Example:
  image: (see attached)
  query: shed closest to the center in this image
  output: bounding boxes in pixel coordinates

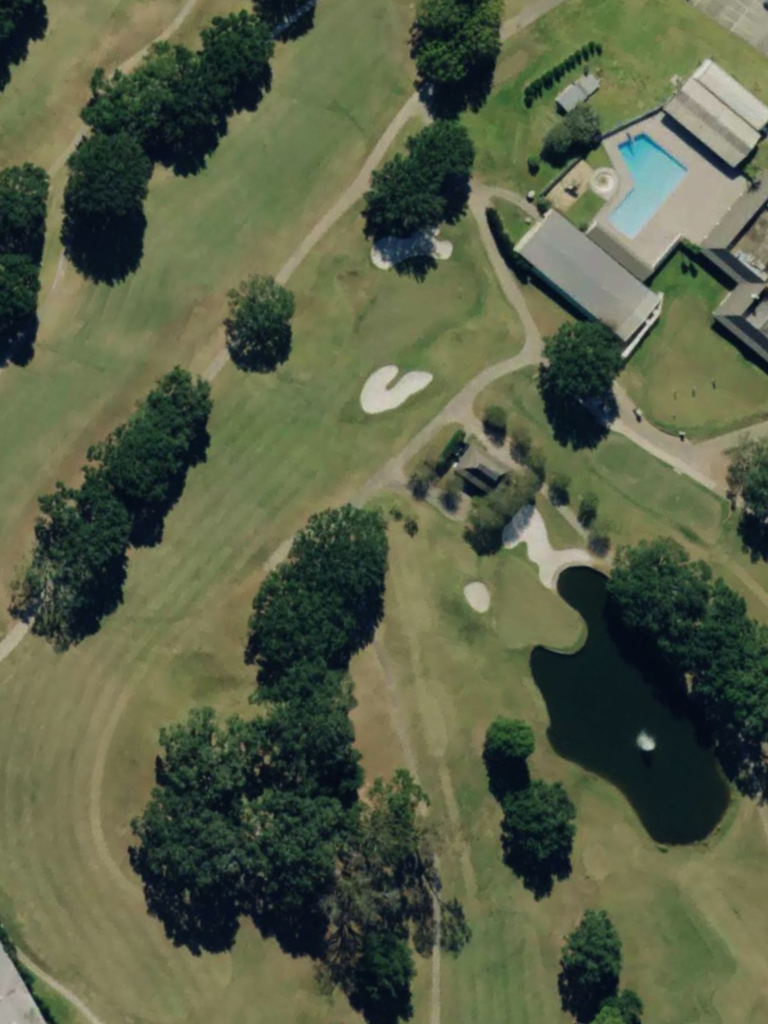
[456,444,510,493]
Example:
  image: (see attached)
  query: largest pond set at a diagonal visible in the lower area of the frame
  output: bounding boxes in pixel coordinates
[529,566,731,846]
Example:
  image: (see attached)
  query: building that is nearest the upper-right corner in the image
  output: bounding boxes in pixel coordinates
[664,59,768,169]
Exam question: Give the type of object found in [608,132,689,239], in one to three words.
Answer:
swimming pool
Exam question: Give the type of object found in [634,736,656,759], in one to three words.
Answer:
fountain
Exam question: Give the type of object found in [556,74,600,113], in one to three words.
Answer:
shed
